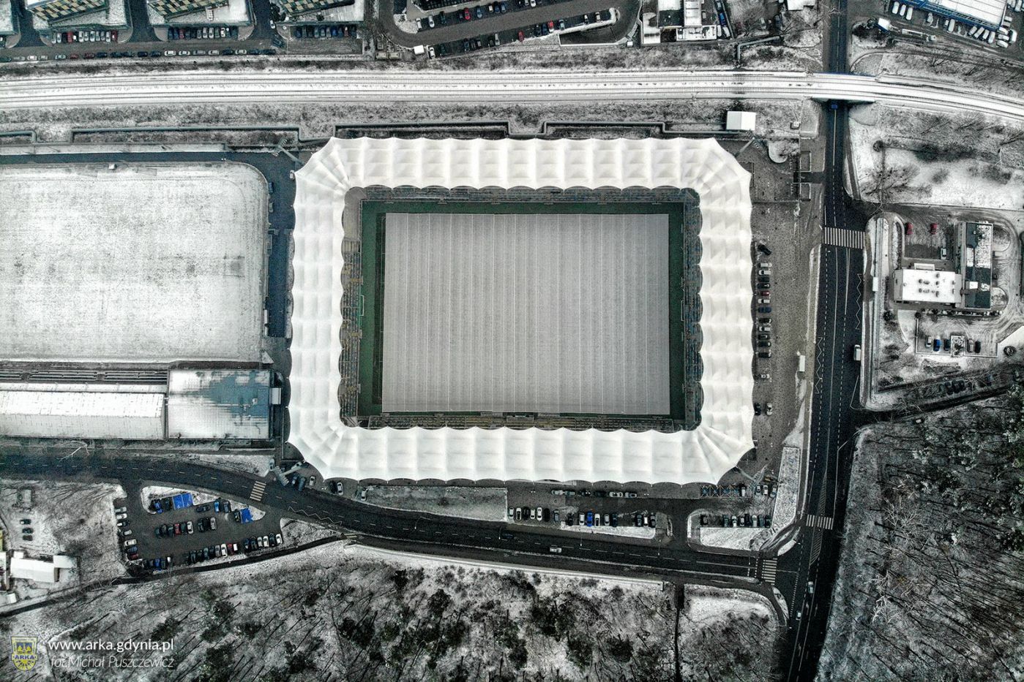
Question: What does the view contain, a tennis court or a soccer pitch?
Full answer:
Visible in the photo is a soccer pitch.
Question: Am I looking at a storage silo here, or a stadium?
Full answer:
Visible in the photo is a stadium.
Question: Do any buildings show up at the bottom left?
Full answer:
Yes, a building can be seen at the bottom left.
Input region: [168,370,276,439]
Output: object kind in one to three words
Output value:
building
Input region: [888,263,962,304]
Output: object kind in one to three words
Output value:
building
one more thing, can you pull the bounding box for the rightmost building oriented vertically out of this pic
[954,223,994,310]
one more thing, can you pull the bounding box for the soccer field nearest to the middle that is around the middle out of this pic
[359,202,684,418]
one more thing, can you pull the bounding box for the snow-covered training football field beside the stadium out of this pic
[0,162,272,362]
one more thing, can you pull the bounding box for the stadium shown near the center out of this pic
[286,136,756,486]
